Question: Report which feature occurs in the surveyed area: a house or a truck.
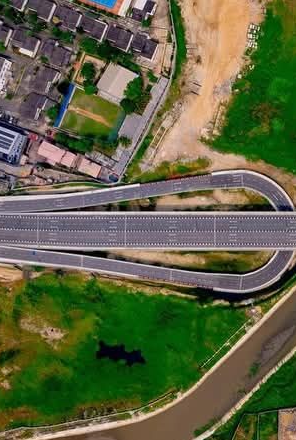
house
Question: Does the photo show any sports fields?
Yes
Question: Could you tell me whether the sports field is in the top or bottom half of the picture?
top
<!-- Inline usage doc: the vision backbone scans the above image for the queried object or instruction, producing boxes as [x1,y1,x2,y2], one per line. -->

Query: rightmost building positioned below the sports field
[78,158,105,179]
